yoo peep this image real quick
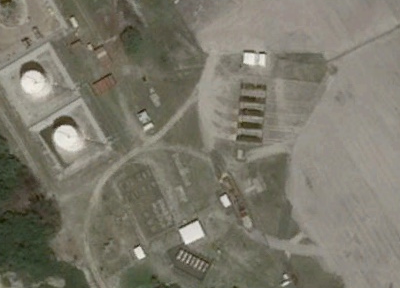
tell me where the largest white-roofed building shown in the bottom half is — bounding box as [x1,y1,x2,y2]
[178,220,205,246]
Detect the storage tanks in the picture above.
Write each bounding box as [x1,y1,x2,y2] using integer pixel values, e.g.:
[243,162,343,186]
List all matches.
[53,124,84,155]
[20,70,52,101]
